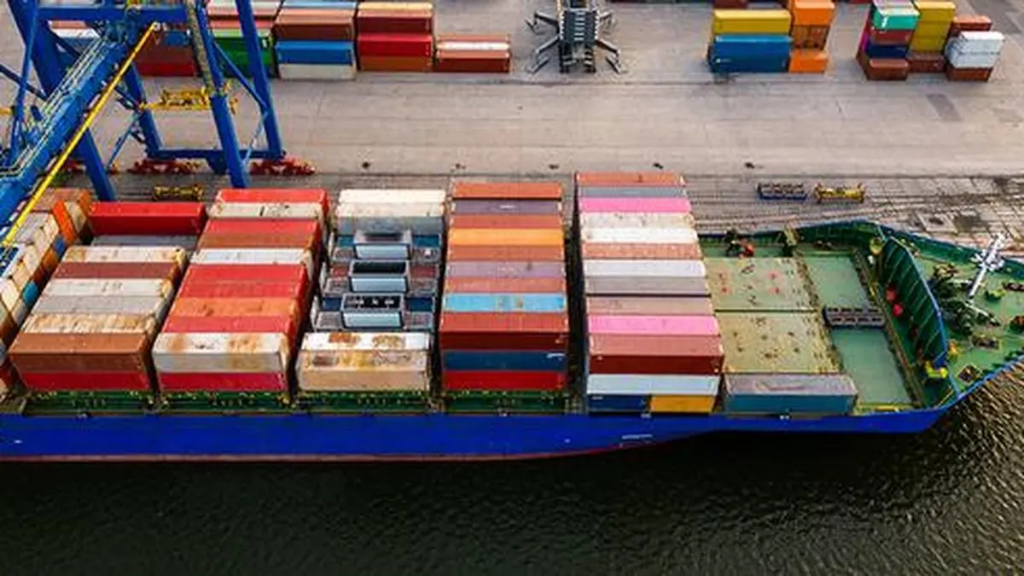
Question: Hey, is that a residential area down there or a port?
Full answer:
The area seen from above is a port.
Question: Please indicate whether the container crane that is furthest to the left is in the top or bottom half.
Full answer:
The top half of the photo is where the container crane that is furthest to the left is.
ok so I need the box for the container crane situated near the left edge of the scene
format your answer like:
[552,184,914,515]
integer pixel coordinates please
[0,0,317,341]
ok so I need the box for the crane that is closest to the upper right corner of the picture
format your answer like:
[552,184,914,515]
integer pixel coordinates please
[525,0,631,71]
